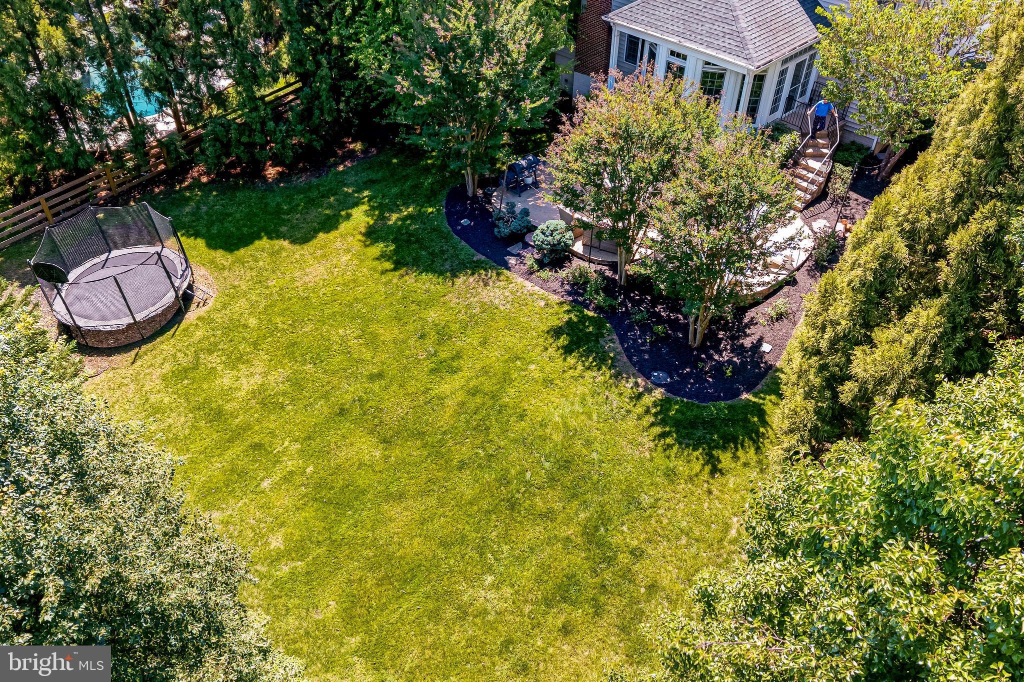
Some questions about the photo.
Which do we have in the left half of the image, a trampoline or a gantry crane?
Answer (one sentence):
Visible in the left half of the image is a trampoline.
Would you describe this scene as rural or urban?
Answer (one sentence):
The area shown here is rural.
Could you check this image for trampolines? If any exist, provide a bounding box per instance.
[26,201,200,349]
